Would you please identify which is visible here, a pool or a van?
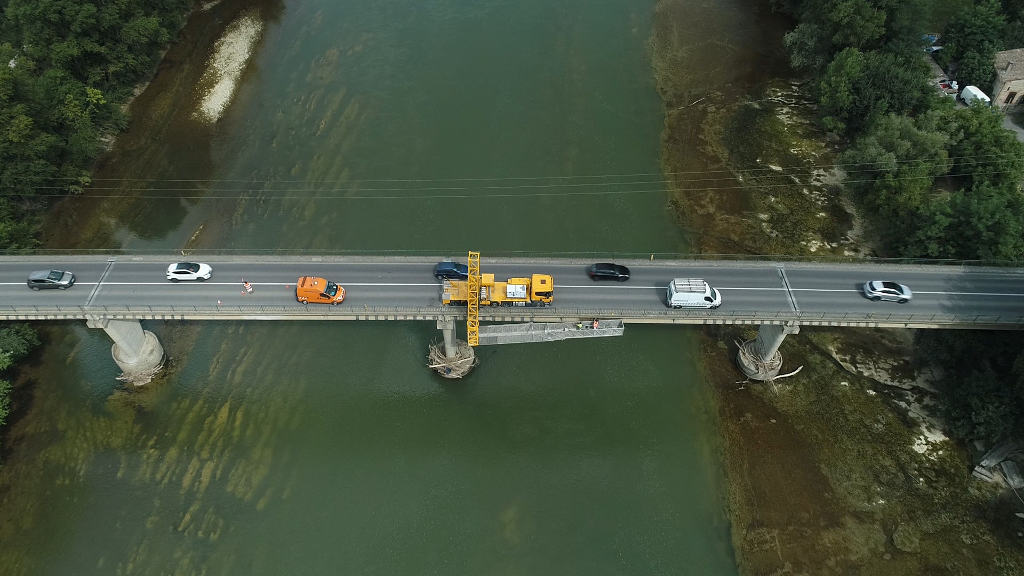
van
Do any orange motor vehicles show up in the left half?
Yes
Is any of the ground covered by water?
Yes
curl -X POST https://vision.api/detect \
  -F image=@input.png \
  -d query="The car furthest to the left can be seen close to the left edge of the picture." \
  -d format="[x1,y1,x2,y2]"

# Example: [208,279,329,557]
[27,267,79,288]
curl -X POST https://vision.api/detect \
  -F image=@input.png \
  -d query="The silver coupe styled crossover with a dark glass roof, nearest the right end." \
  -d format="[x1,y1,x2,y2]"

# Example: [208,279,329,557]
[862,278,912,301]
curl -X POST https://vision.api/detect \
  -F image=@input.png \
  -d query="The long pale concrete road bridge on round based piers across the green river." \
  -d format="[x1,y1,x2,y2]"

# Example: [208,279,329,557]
[0,253,1024,383]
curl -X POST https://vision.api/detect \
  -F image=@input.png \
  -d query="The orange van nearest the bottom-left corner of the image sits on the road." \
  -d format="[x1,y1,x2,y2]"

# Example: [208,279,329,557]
[293,274,349,303]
